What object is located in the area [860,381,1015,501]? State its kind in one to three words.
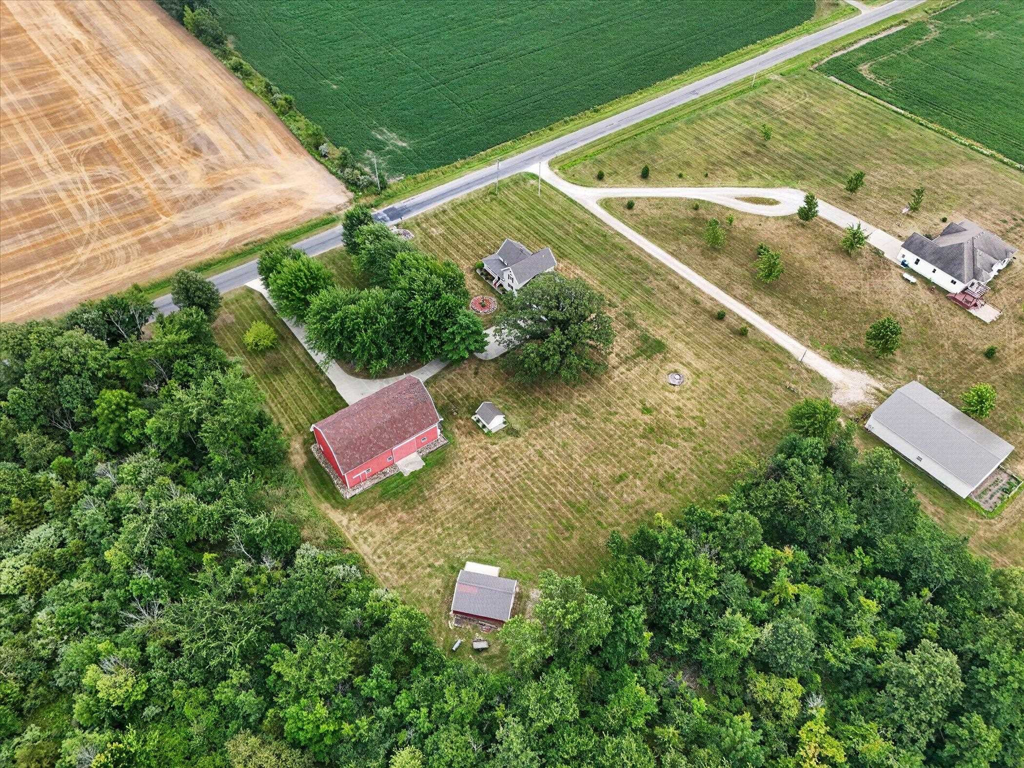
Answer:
barn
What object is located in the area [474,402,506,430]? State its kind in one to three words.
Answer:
shed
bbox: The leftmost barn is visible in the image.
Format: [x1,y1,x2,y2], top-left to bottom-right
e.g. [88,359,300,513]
[311,375,440,489]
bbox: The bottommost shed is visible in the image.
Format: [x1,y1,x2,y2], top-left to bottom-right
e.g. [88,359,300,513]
[452,570,518,625]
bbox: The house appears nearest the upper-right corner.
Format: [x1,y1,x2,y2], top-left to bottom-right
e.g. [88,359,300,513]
[894,220,1017,292]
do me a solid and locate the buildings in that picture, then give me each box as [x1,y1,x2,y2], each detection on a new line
[484,238,558,296]
[860,381,1015,501]
[894,220,1017,292]
[474,402,506,430]
[311,375,440,489]
[452,570,518,625]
